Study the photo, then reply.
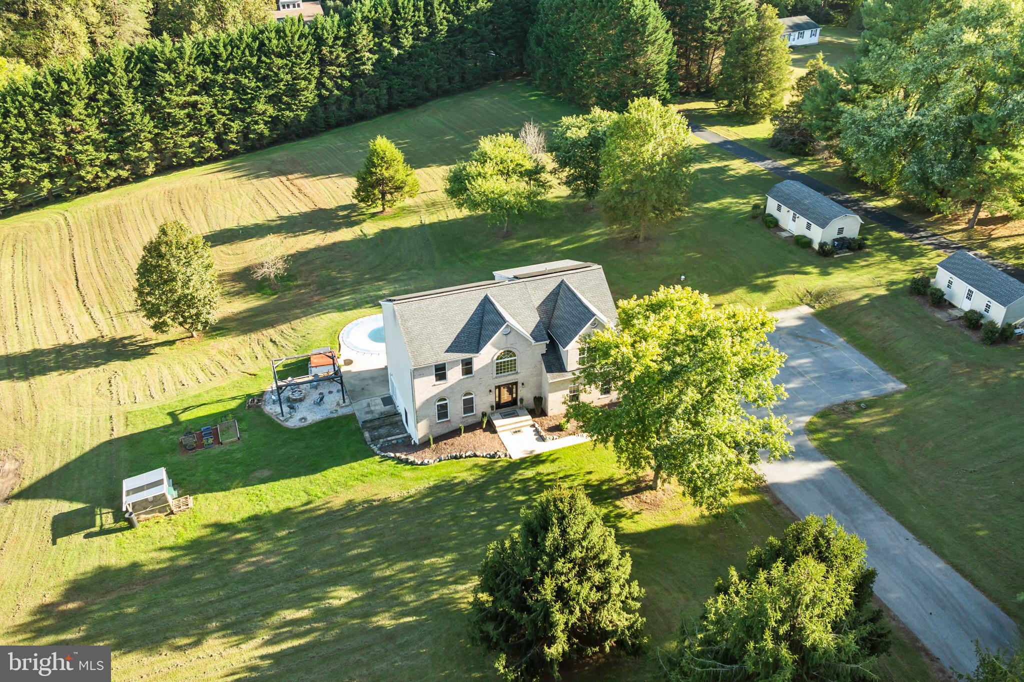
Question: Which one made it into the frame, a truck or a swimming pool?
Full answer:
Looking from above, you can make out a swimming pool.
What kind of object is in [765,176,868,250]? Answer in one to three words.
shed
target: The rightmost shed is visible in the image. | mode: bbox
[936,250,1024,326]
